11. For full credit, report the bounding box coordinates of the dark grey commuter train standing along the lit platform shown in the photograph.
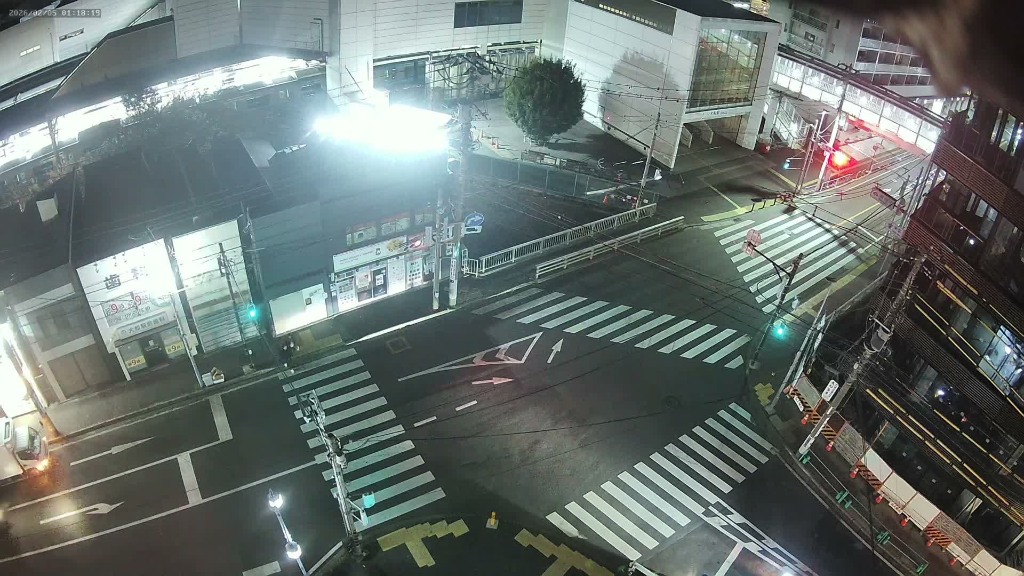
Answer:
[0,67,317,188]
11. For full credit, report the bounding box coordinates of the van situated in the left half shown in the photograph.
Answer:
[0,428,48,492]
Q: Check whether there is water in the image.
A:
No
